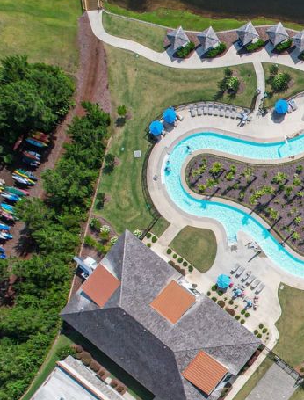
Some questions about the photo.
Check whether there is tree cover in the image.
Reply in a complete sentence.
Yes, tree cover can be seen from above here.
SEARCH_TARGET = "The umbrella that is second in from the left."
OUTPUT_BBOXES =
[163,108,177,123]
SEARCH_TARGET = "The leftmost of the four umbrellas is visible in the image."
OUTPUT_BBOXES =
[148,120,164,135]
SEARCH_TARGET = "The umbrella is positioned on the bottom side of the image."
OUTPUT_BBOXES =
[216,273,232,288]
